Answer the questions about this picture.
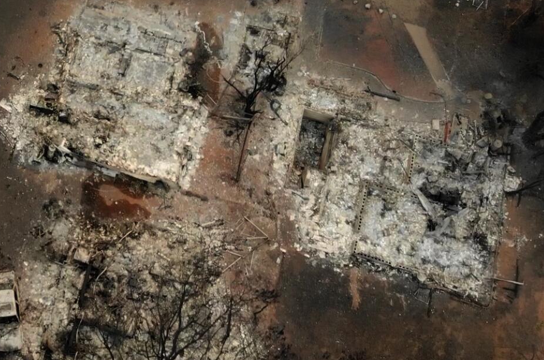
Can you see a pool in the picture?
No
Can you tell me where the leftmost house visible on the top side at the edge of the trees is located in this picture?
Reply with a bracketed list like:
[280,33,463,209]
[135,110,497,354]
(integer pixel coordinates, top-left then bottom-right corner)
[0,0,226,201]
